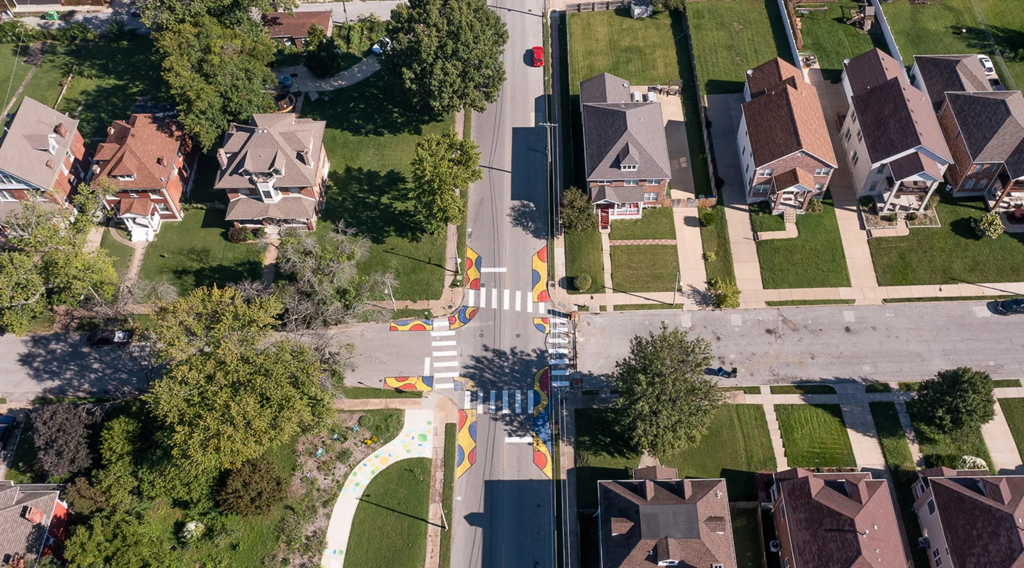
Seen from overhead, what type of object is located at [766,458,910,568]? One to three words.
house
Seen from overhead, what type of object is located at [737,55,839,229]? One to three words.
house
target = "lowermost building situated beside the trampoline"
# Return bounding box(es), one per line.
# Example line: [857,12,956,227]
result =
[211,114,335,244]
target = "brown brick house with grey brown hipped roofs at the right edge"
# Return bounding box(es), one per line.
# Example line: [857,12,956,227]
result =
[911,55,1024,222]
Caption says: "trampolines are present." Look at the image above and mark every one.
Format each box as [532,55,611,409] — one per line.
[266,82,300,114]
